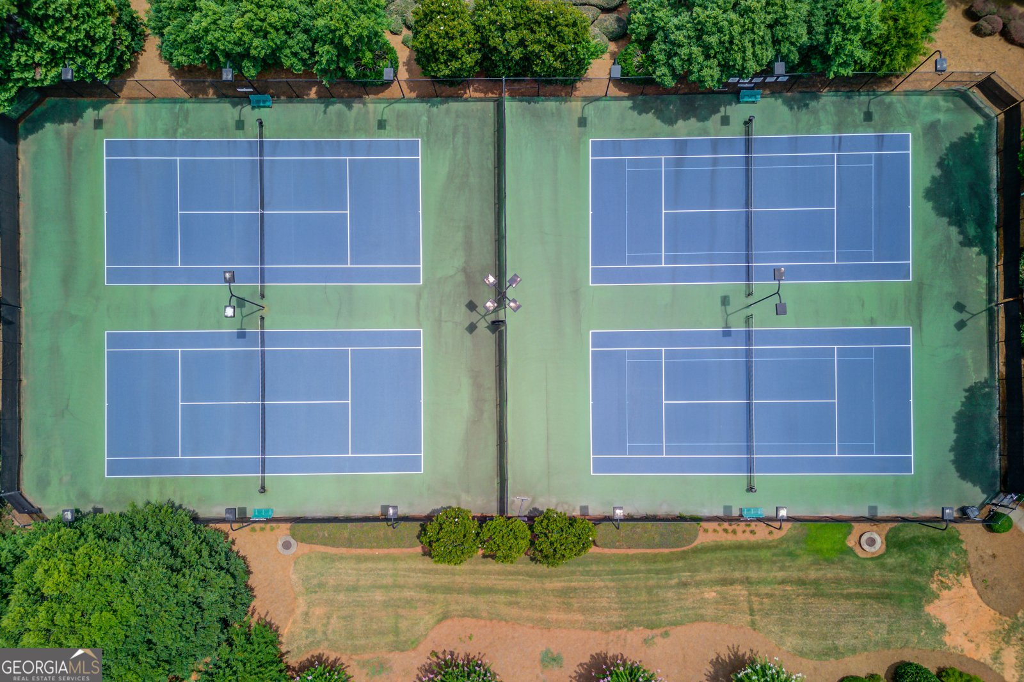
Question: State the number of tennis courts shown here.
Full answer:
I count 4 tennis courts.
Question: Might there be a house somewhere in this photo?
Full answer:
No, the scene contains no house.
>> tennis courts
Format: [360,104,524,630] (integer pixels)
[590,133,912,285]
[104,329,423,478]
[590,327,914,476]
[104,138,422,285]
